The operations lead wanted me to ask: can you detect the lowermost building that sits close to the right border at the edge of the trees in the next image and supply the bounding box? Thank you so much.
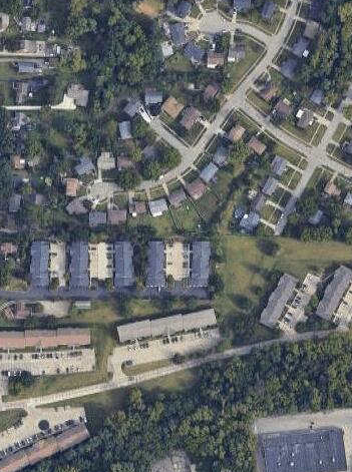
[262,427,347,472]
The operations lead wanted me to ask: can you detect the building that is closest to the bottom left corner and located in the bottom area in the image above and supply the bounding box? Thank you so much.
[0,424,89,472]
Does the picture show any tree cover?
Yes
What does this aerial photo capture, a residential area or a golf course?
residential area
